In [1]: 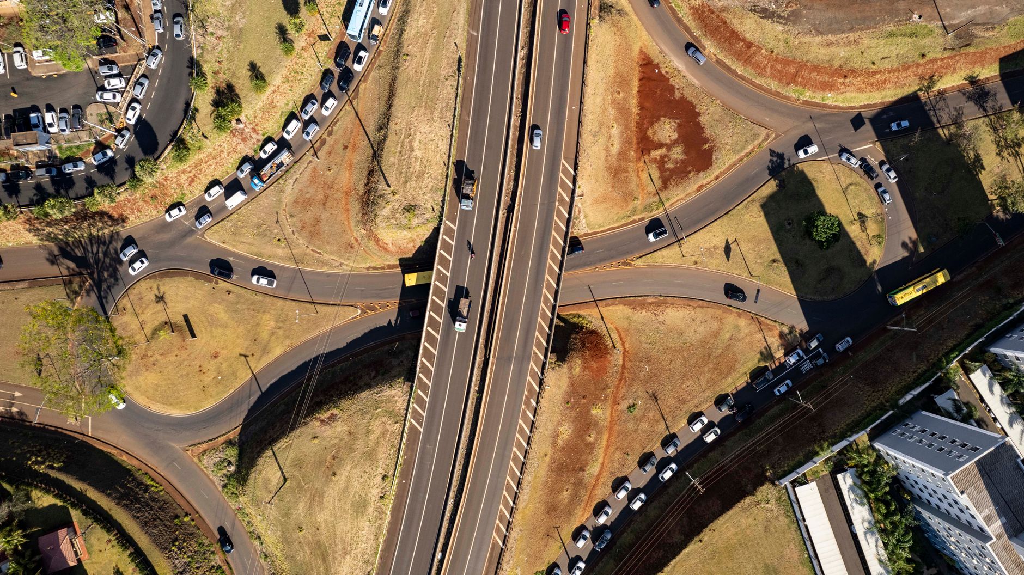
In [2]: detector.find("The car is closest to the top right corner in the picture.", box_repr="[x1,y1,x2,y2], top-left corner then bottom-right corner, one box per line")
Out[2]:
[887,119,912,133]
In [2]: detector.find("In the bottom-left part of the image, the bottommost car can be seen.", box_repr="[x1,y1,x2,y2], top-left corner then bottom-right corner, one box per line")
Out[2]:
[218,533,235,554]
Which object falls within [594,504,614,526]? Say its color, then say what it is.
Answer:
white car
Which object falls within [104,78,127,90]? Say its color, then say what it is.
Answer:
white vehicle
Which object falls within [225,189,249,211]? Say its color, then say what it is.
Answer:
white vehicle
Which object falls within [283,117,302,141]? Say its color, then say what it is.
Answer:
white car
